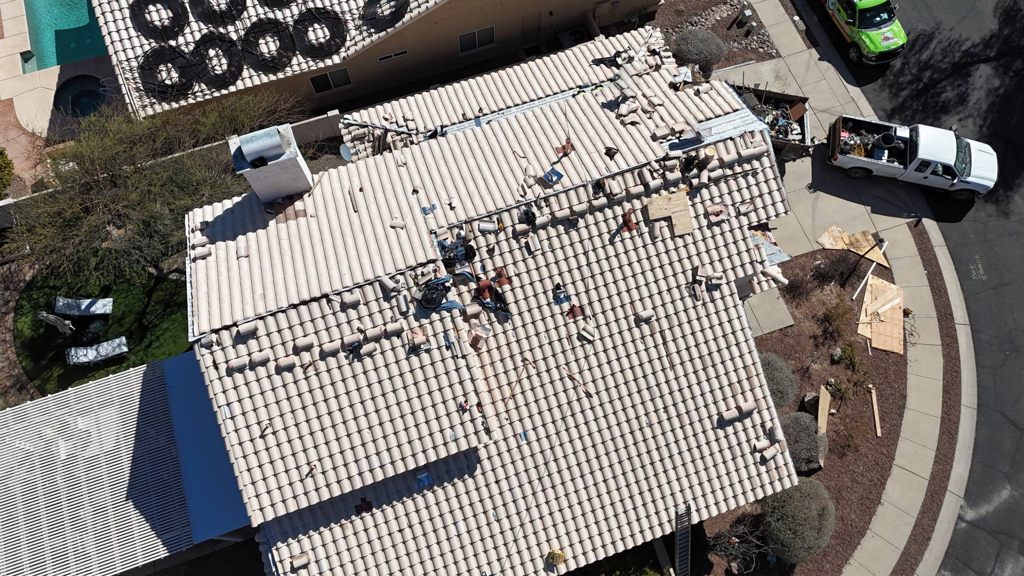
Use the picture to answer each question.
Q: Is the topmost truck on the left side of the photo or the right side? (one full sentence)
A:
It is on the right.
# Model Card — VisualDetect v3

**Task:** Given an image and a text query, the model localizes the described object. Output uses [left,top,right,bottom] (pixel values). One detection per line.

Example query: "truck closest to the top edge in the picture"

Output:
[818,0,917,71]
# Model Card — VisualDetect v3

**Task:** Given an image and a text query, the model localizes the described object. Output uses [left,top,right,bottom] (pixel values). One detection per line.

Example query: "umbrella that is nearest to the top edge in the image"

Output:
[39,313,100,346]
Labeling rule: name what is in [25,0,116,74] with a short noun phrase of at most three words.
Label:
swimming pool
